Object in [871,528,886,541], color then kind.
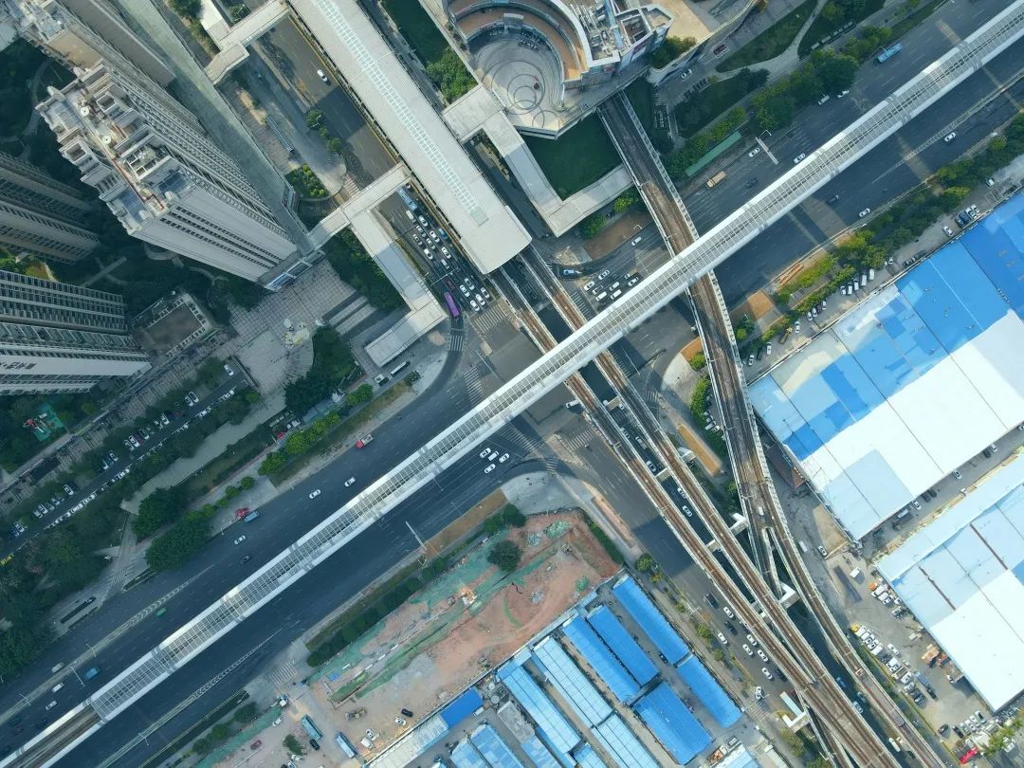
blue vehicle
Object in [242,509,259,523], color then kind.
blue vehicle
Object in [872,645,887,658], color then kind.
white vehicle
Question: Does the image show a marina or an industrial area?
industrial area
